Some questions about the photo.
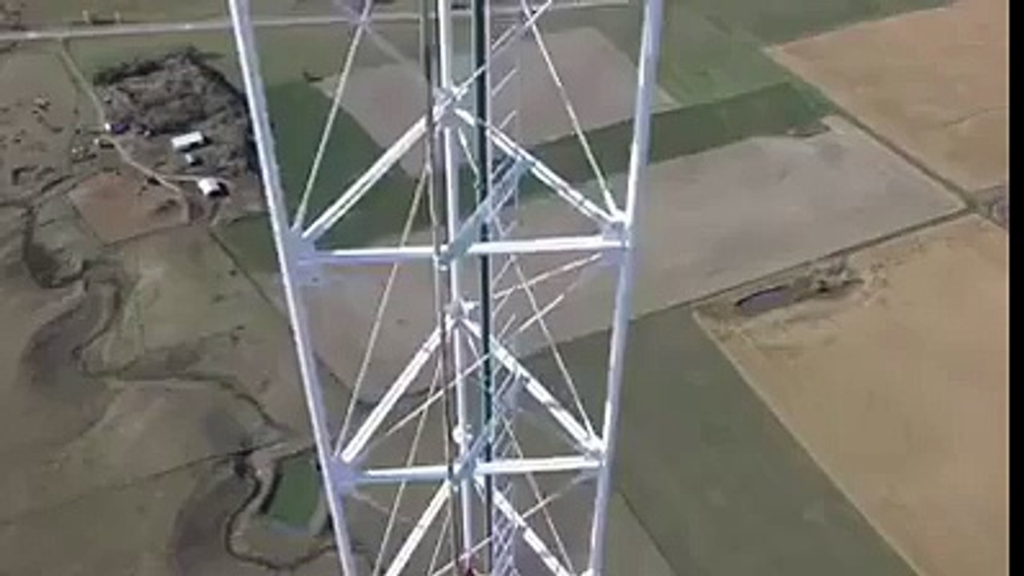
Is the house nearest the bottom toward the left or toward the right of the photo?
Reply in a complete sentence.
The house nearest the bottom sits on the left side.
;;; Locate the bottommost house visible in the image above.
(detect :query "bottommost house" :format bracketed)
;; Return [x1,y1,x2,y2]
[198,178,222,199]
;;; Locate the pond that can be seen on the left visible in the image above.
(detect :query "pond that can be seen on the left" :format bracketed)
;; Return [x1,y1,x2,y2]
[272,461,320,530]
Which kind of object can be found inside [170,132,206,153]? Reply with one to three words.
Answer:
barn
